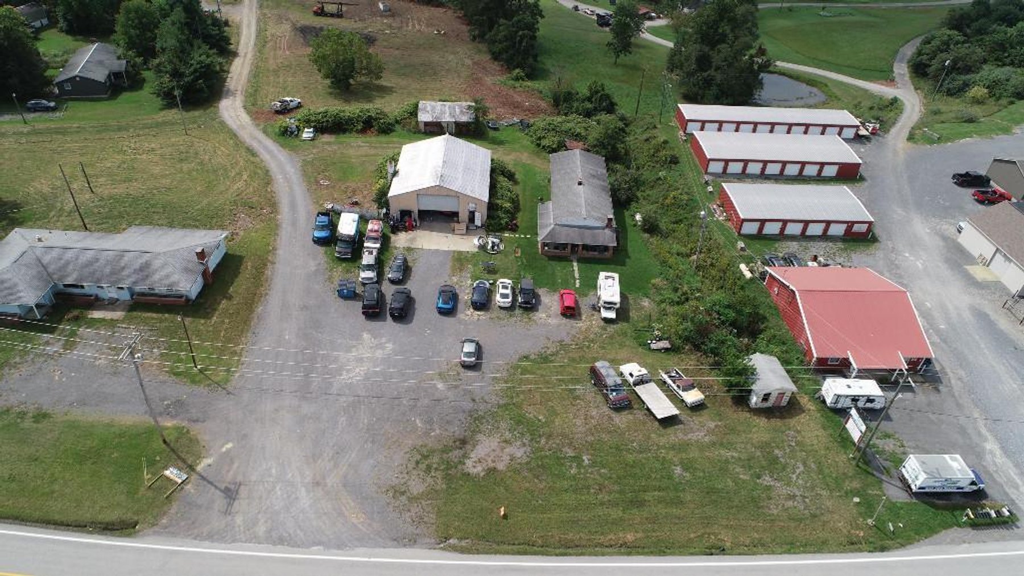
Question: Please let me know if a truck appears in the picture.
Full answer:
Yes, the frame does contain a truck.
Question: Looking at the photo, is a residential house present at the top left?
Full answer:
Yes, a residential house appears at the top left.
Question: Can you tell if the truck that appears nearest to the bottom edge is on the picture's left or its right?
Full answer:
You can find the truck that appears nearest to the bottom edge on the right side of the picture.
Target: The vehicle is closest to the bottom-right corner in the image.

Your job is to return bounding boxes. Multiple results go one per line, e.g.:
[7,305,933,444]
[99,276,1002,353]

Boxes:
[888,458,987,501]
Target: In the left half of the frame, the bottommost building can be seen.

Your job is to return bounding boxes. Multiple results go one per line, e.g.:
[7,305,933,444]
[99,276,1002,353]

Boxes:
[0,227,234,330]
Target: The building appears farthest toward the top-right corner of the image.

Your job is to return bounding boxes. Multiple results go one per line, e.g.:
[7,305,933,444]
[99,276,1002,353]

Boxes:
[976,134,1024,198]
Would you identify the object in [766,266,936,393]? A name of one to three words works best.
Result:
building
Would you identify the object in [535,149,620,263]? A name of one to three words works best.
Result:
house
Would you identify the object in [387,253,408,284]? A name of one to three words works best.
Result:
car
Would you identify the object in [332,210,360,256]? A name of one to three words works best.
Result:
truck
